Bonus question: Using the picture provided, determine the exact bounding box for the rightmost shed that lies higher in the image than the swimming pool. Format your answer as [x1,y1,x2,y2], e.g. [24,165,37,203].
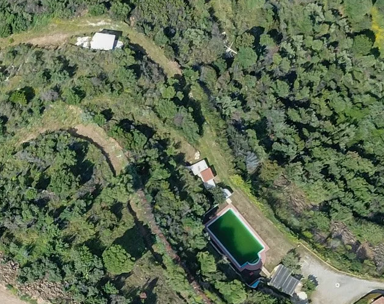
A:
[188,161,215,185]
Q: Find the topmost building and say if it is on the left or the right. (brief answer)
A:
left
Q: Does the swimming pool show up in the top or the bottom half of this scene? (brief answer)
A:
bottom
